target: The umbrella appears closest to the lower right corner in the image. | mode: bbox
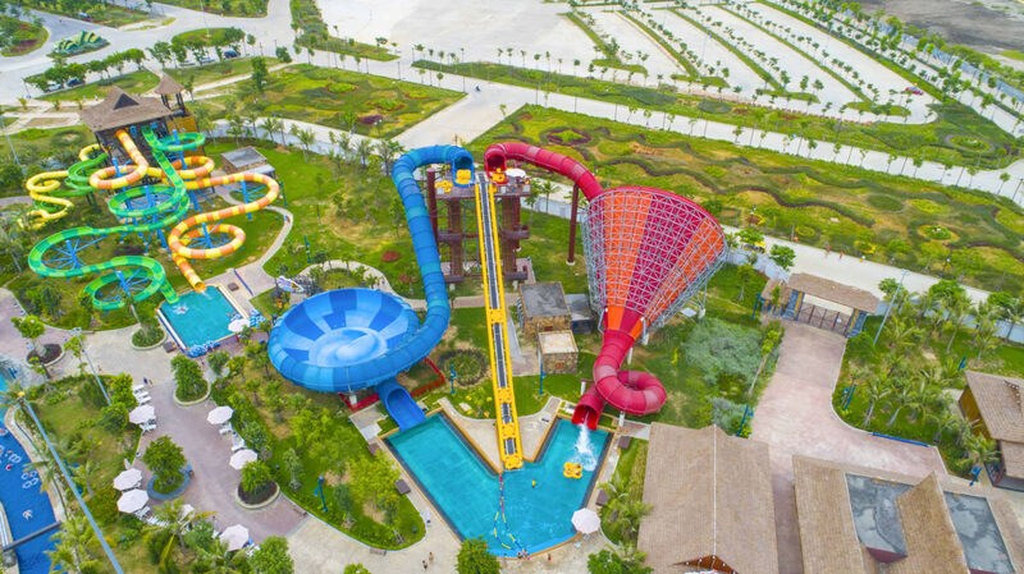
[571,509,602,540]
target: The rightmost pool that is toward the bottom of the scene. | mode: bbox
[381,408,617,562]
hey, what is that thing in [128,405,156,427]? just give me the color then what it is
white umbrella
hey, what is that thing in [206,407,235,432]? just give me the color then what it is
white umbrella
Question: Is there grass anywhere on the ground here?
Yes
